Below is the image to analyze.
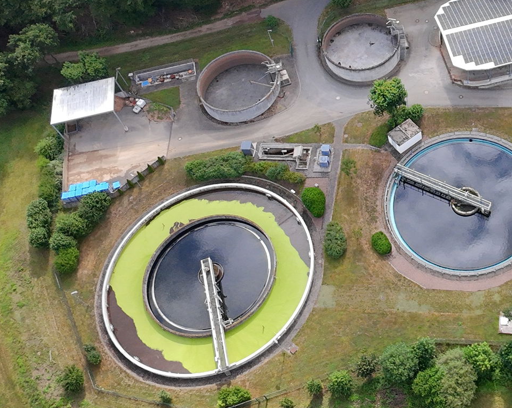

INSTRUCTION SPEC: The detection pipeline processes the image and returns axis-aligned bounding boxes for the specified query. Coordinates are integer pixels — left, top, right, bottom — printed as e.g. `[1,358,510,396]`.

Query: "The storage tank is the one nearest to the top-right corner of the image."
[323,10,409,81]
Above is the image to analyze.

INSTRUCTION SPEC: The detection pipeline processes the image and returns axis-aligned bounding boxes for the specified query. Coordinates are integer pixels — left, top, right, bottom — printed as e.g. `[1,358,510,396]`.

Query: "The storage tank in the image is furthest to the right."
[386,132,512,277]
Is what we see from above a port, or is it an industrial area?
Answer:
industrial area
